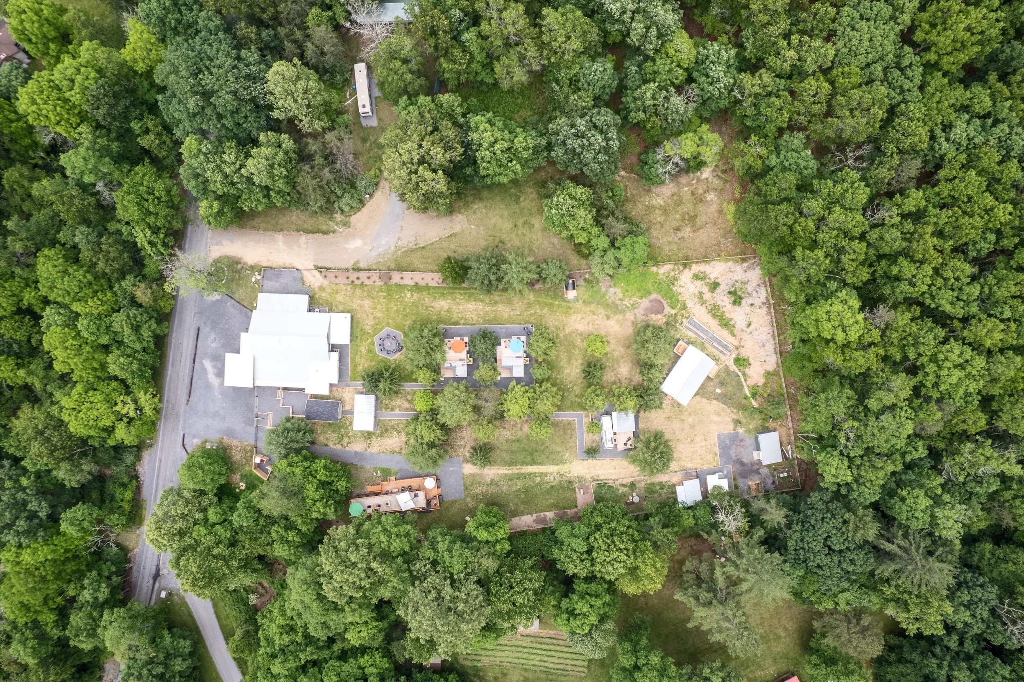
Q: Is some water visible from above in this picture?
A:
No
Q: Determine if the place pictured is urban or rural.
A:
rural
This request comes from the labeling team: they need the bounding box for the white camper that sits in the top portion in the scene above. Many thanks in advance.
[355,62,374,120]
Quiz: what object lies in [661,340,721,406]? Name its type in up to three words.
building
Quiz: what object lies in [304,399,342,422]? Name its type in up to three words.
building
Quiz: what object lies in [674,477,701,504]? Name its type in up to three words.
shed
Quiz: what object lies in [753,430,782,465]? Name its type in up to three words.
shed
